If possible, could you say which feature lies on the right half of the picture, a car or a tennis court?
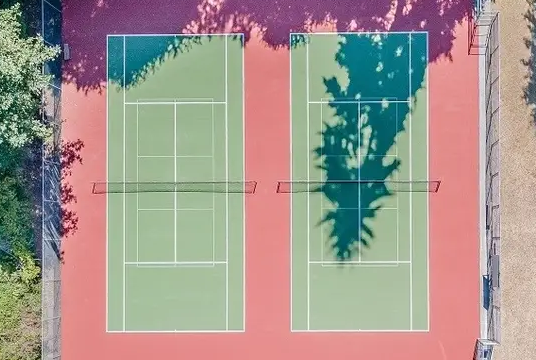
tennis court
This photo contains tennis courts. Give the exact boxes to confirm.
[291,32,429,332]
[107,34,245,332]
